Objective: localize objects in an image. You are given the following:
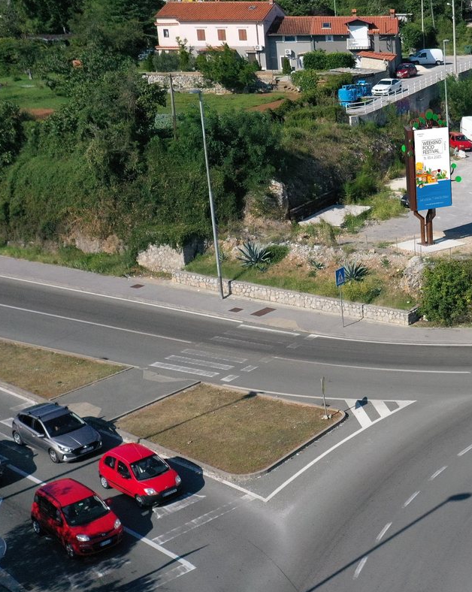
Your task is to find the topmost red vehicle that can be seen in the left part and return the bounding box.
[103,437,178,500]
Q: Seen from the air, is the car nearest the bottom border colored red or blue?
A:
red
